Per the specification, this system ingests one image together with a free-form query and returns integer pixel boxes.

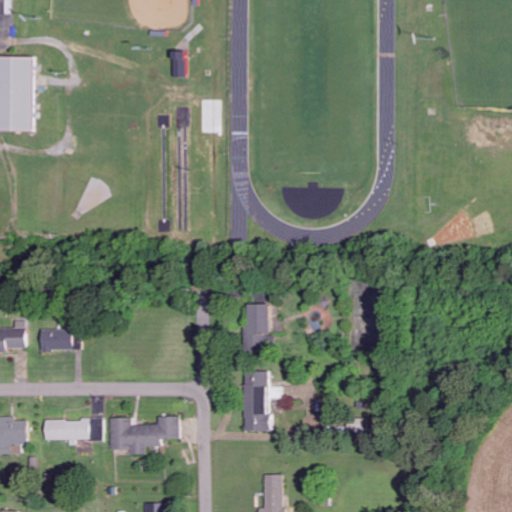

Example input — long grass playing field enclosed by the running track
[250,0,378,228]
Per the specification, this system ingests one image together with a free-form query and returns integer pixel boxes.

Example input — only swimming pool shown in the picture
[308,312,320,330]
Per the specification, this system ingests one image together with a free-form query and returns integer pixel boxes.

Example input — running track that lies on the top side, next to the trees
[232,0,396,246]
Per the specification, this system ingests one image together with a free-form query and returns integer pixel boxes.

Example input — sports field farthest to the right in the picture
[445,0,512,108]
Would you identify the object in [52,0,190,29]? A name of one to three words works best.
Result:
baseball field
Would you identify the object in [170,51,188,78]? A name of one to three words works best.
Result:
building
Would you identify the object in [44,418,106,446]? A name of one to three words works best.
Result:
house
